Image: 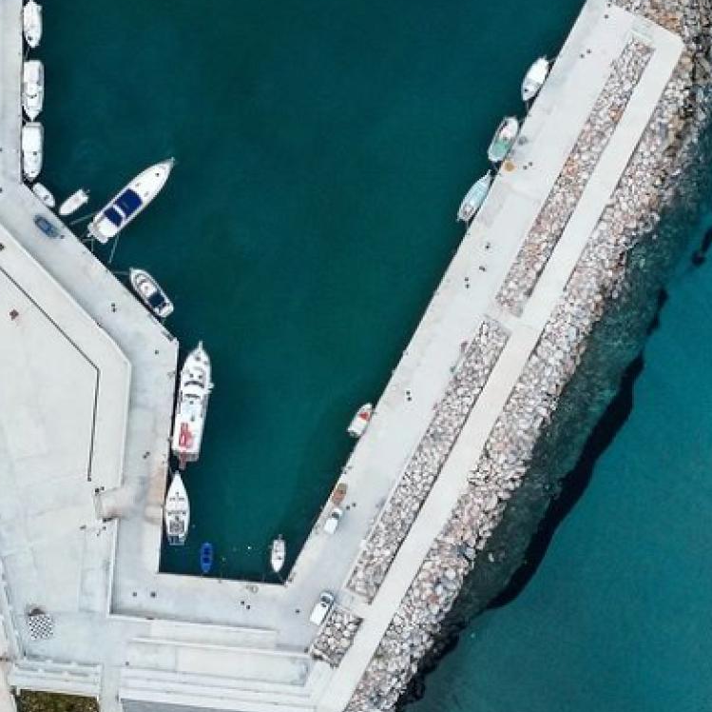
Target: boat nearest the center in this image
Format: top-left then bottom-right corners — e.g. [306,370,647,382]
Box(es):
[347,404,372,441]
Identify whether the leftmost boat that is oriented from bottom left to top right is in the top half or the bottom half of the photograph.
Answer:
top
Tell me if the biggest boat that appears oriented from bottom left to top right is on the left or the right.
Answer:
left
